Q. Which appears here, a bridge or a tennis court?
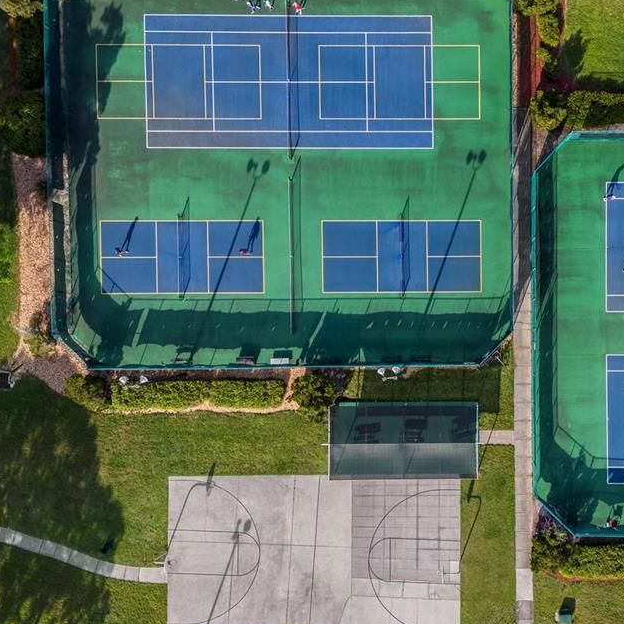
tennis court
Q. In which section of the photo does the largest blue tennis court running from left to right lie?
top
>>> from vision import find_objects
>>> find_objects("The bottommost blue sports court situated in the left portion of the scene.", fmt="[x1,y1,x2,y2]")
[99,220,265,294]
